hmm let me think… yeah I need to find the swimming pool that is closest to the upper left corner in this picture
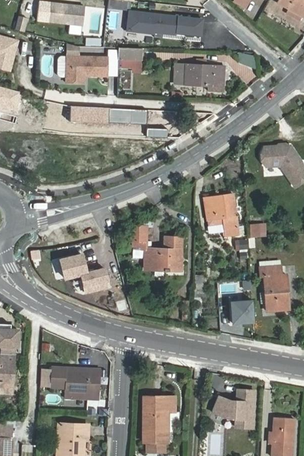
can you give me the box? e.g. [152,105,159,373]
[40,54,55,78]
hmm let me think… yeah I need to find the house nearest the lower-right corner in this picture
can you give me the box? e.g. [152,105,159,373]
[268,418,298,456]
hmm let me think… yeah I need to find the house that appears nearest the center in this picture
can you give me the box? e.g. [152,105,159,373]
[134,224,185,277]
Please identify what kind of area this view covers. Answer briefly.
residential area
